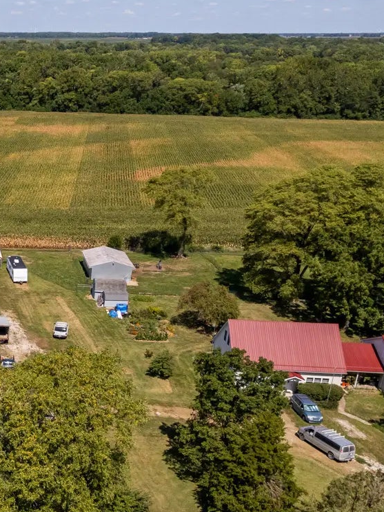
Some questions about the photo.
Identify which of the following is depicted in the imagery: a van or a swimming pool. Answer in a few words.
van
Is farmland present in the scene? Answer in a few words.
Yes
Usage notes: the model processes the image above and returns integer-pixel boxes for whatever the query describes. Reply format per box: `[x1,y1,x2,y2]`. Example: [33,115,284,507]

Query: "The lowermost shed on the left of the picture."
[88,278,132,307]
